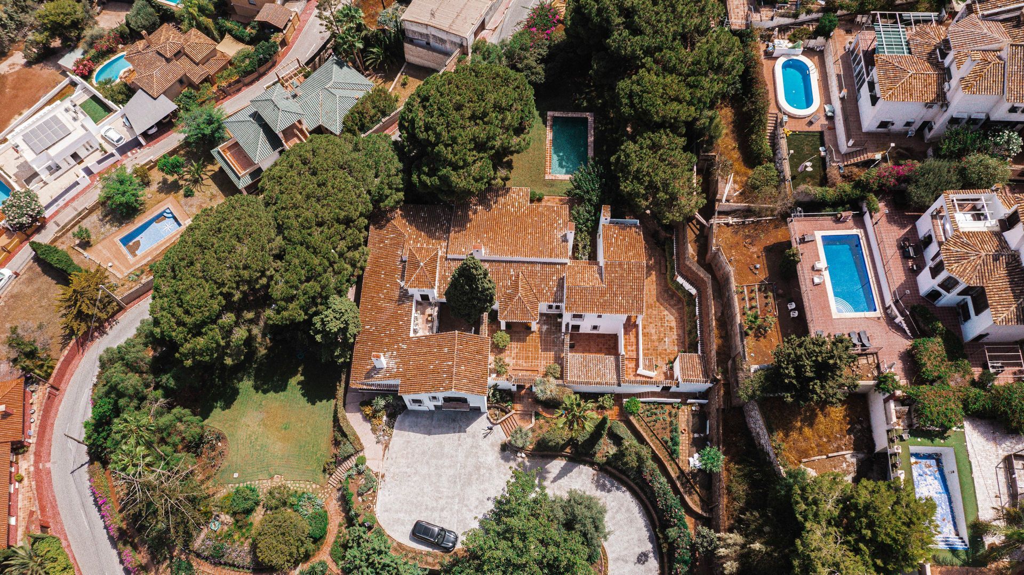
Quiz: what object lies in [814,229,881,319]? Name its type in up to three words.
swimming pool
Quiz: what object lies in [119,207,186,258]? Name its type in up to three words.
swimming pool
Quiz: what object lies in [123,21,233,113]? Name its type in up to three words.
house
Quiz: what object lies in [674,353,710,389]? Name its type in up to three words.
shed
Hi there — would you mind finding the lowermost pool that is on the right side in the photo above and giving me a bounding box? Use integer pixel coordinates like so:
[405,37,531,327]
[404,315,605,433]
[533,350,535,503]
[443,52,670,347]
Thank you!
[909,446,968,548]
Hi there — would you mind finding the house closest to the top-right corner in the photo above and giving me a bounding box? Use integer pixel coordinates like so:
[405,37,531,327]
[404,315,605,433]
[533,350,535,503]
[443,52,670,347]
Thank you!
[850,0,1024,131]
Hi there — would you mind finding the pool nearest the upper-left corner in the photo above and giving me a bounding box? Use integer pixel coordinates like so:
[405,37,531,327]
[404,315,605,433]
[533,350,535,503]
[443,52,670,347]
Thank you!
[95,54,131,81]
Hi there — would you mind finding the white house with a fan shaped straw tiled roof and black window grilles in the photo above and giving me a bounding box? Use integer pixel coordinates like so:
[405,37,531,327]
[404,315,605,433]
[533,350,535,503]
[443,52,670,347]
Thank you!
[918,189,1024,335]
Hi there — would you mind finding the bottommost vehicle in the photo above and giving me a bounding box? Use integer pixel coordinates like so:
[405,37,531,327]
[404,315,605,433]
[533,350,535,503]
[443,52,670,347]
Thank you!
[409,519,459,556]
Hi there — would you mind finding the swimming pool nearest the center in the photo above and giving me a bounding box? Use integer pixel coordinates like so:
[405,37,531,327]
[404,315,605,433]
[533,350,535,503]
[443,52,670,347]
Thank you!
[545,111,594,179]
